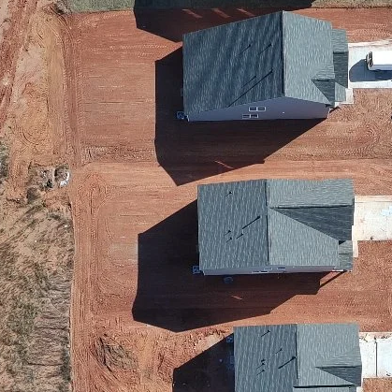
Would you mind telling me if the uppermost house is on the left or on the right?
right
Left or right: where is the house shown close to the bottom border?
right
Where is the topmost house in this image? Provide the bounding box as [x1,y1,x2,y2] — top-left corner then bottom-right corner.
[182,11,348,122]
